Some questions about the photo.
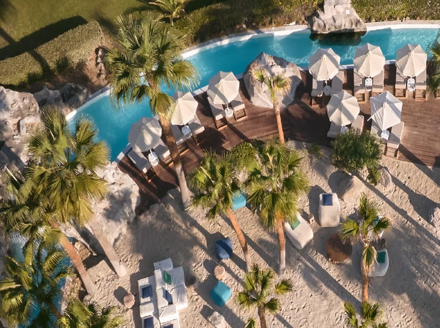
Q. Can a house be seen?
No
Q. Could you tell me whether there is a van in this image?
No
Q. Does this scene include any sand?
Yes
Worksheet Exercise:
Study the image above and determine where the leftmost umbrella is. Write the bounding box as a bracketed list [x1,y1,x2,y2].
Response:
[130,116,164,156]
